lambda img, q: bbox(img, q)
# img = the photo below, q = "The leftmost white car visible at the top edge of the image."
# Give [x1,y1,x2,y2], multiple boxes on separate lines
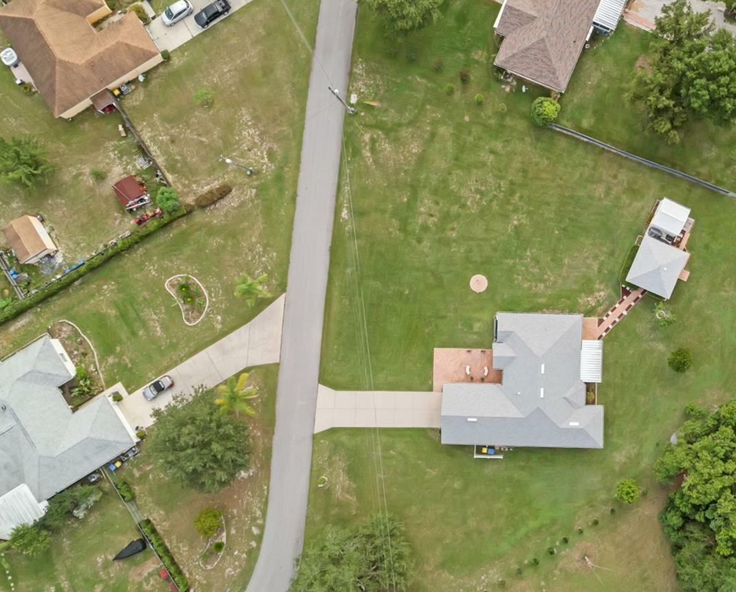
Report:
[160,0,192,23]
